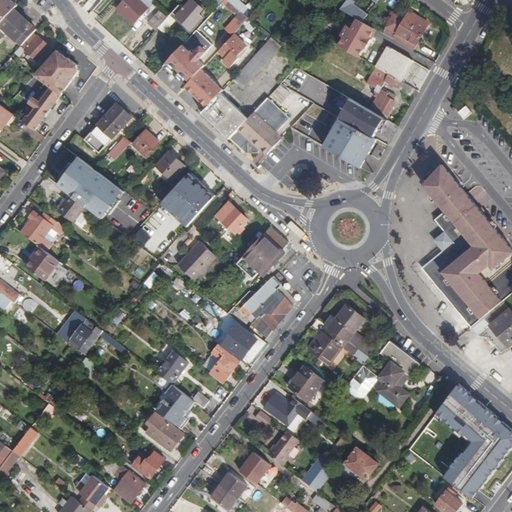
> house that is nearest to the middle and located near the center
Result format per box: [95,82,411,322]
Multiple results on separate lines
[240,225,288,278]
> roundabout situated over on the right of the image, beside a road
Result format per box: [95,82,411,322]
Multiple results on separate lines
[309,188,388,268]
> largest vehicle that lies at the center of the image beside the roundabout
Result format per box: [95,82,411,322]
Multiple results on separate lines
[292,221,312,240]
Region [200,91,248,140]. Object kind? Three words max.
building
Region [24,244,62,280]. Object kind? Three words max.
house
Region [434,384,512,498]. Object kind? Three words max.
building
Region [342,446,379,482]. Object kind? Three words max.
house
